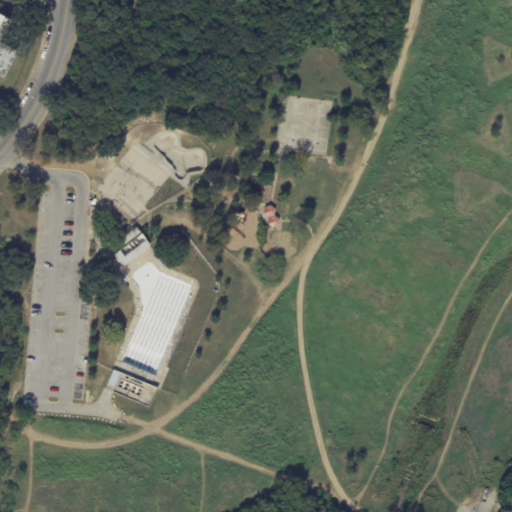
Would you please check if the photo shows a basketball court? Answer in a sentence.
Yes, there is a basketball court in the image.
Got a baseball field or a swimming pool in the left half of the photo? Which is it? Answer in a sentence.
The one visible in the left half of the photo is a swimming pool.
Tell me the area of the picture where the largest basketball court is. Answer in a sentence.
You can find the largest basketball court in the top area of the picture.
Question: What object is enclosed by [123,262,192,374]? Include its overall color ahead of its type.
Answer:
white swimming pool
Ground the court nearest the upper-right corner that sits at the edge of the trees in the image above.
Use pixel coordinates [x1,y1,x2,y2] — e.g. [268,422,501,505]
[278,96,332,156]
